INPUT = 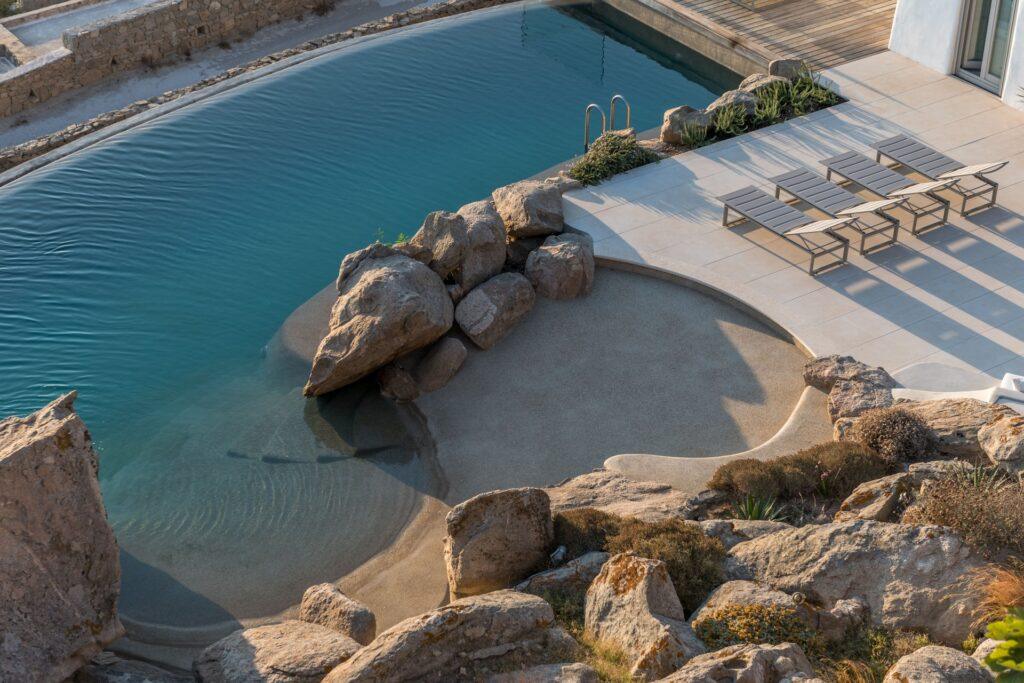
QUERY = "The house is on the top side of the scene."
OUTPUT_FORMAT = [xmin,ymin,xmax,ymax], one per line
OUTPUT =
[892,0,1024,112]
